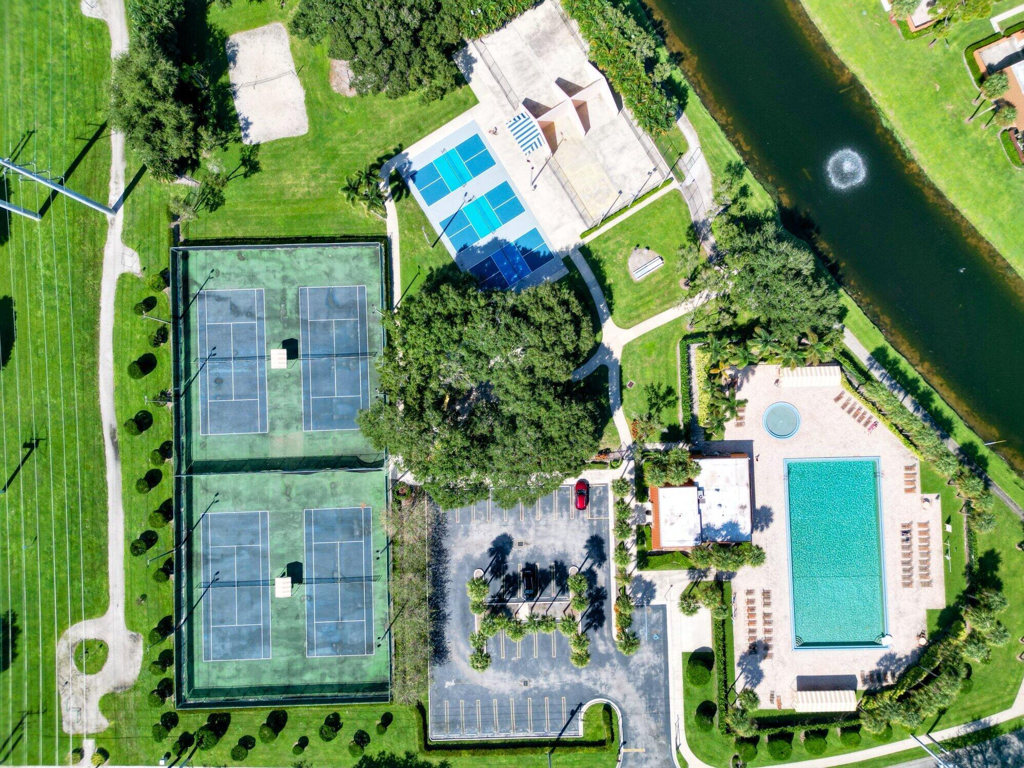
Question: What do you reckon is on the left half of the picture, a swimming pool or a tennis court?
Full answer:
Looking on the left half of the picture, you will find a tennis court.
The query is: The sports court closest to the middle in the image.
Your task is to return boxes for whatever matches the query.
[468,227,555,289]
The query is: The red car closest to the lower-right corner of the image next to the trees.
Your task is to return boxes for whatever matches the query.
[575,480,590,511]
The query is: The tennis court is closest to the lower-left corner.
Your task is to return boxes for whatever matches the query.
[193,511,276,662]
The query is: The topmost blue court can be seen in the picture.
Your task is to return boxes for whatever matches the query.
[409,133,496,207]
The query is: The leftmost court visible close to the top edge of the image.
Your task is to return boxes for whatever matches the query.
[225,22,309,145]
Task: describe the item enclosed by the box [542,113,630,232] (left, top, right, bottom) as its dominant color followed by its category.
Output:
white sports court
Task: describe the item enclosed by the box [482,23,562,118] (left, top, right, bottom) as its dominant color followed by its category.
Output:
white sports court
